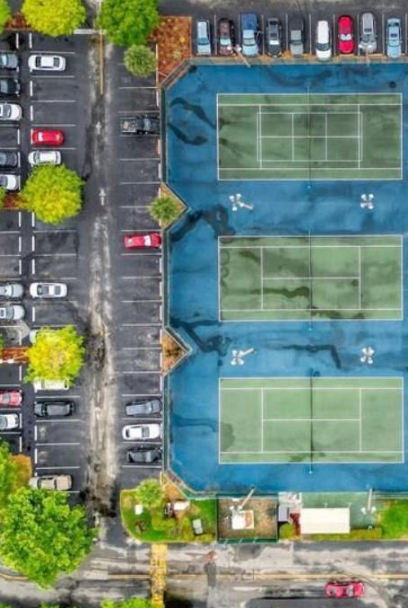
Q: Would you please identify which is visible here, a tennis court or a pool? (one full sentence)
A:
Visible in the photo is a tennis court.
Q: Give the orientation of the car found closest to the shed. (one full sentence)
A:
I'd say the car found closest to the shed is aligned horizontally in the picture.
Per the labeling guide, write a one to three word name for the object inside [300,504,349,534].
shed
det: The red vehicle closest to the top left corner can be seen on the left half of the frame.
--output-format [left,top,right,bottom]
[32,131,65,145]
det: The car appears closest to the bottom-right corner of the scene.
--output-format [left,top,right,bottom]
[326,579,364,599]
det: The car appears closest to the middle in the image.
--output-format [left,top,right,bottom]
[124,232,160,249]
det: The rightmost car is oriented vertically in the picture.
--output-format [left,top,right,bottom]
[386,19,401,58]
